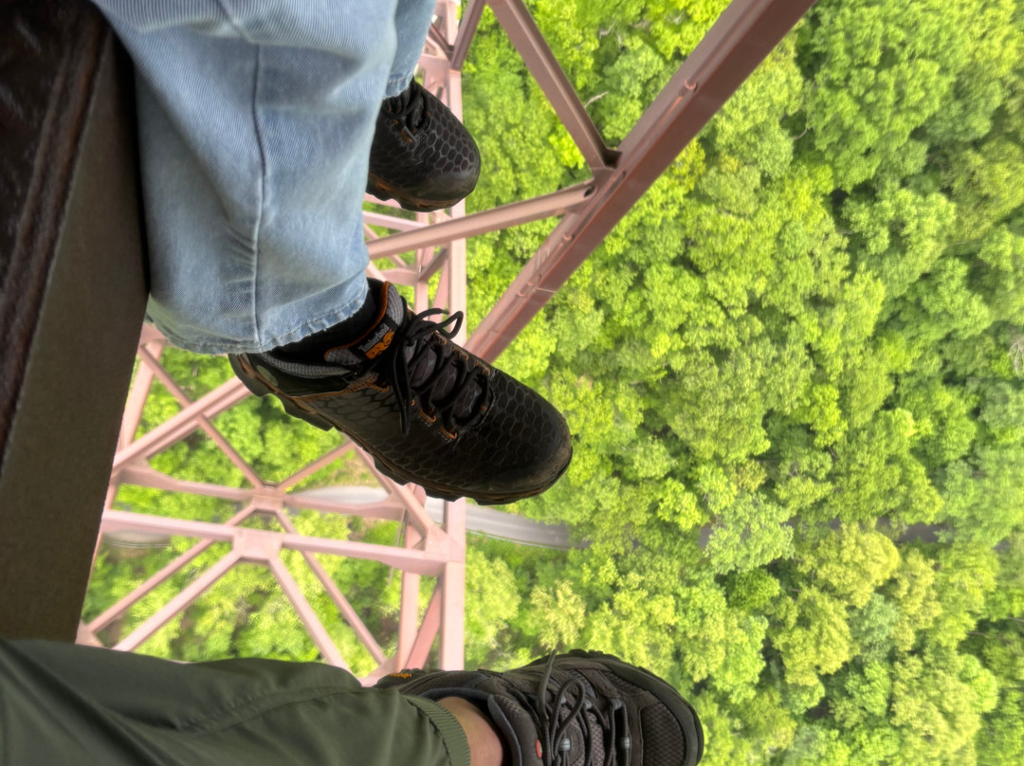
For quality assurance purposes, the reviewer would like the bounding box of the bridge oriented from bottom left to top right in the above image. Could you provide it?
[71,0,816,669]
